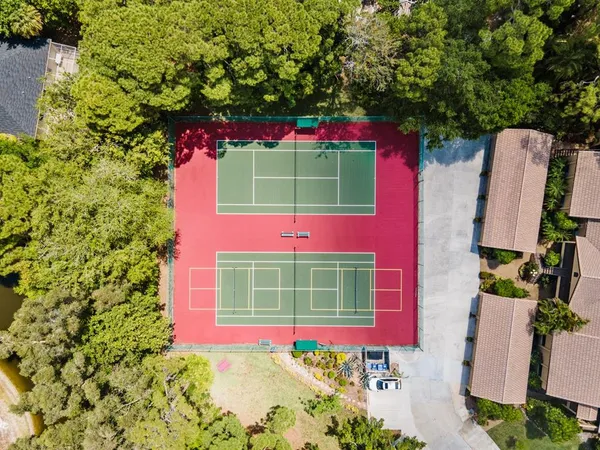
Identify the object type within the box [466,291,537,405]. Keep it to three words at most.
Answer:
building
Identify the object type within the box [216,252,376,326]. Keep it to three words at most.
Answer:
tennis court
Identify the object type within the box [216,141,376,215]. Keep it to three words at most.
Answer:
tennis court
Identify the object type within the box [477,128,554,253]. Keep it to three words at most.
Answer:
building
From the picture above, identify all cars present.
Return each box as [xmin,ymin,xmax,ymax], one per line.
[369,376,401,393]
